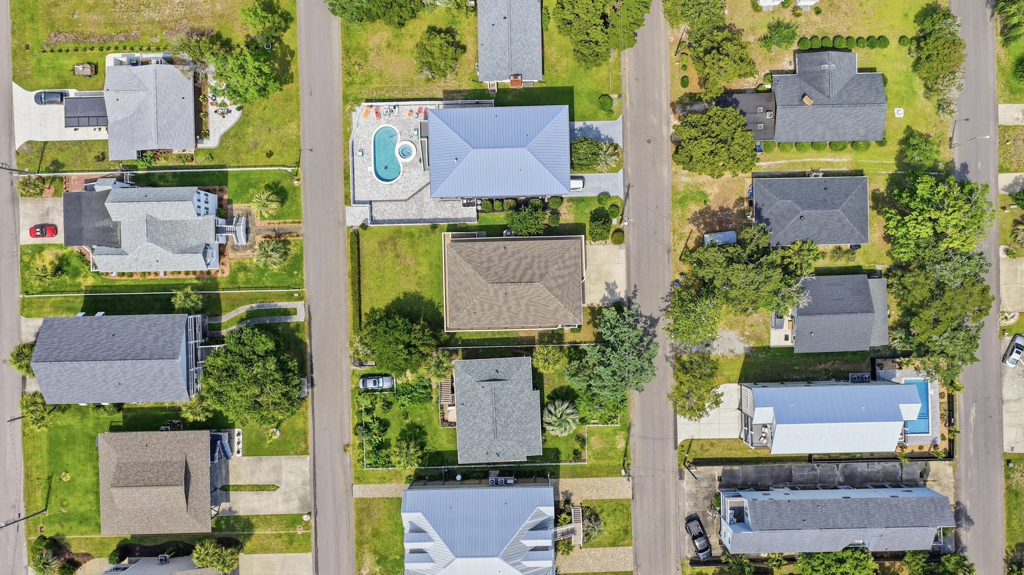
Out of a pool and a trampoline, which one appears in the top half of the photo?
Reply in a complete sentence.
Looking in the top half of the photo, you will find a pool.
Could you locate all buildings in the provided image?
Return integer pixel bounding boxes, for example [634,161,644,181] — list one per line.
[439,357,541,463]
[790,0,815,11]
[401,481,553,575]
[734,383,922,455]
[790,275,888,353]
[720,487,956,557]
[478,0,542,92]
[32,310,231,407]
[442,232,584,333]
[90,555,218,575]
[751,175,869,246]
[754,0,780,11]
[104,64,200,160]
[769,51,886,143]
[417,104,571,201]
[93,430,239,535]
[63,179,246,272]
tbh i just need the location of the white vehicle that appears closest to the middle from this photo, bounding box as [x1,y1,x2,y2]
[570,178,586,192]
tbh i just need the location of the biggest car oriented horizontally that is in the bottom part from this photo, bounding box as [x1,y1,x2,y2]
[359,376,391,391]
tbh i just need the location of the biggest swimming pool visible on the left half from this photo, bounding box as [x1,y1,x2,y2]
[371,124,404,184]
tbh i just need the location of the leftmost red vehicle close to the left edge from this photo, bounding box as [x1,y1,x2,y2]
[30,224,58,238]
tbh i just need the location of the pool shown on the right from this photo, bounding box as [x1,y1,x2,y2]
[902,378,931,436]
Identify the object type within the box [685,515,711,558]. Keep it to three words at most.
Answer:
truck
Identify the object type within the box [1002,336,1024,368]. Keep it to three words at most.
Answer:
car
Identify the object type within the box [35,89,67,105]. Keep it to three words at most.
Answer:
car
